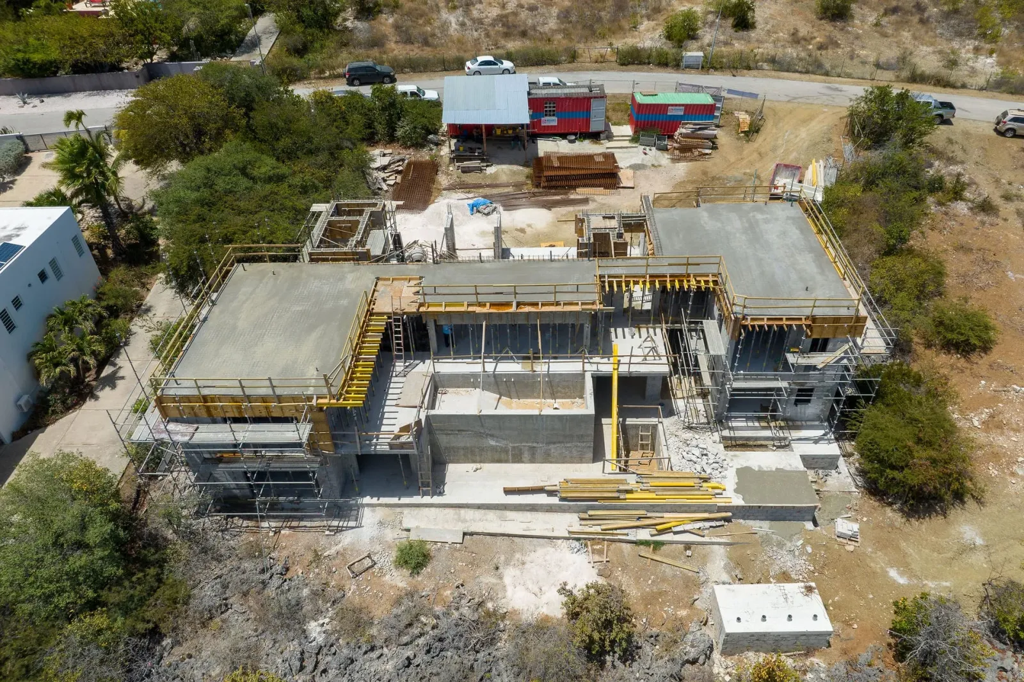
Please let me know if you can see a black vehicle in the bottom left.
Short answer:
No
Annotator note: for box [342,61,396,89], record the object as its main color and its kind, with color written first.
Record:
black car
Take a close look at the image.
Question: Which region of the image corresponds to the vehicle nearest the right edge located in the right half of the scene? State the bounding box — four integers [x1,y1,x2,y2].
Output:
[995,102,1024,134]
